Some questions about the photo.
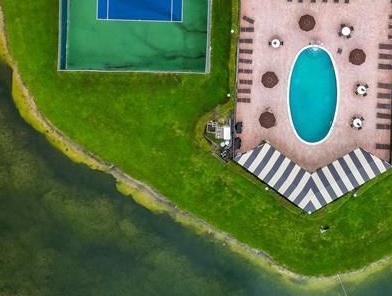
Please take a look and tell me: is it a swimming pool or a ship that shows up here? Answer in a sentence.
The one in the frame is a swimming pool.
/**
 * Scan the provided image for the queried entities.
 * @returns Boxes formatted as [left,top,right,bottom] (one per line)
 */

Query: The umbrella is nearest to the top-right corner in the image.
[348,48,365,65]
